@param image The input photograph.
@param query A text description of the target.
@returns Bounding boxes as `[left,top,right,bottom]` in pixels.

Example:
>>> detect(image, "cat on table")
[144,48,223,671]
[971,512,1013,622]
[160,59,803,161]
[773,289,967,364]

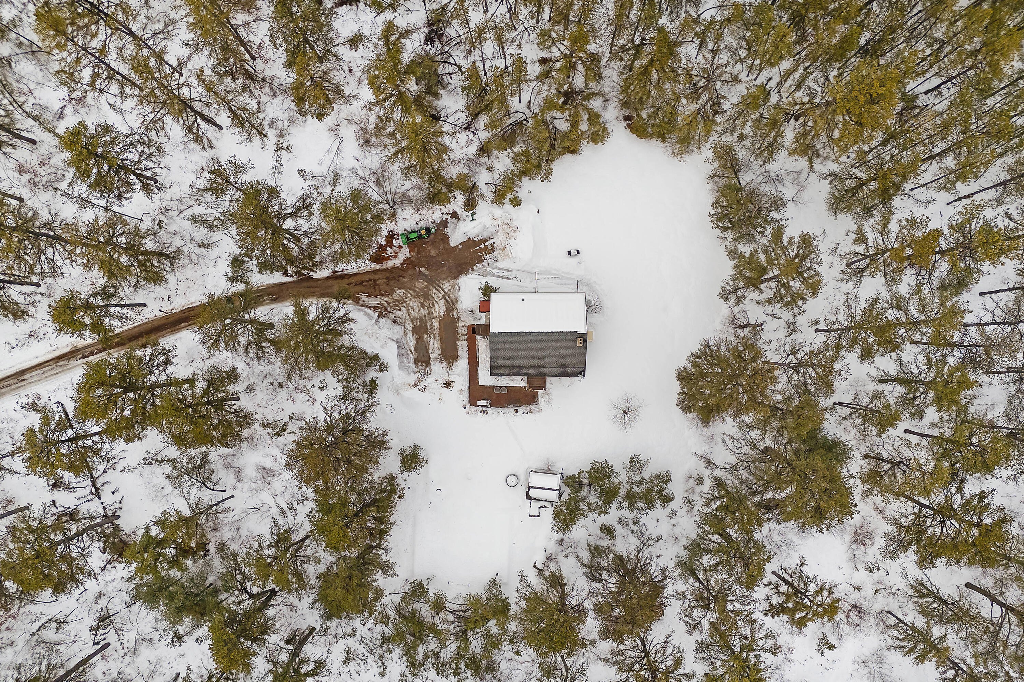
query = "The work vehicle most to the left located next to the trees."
[401,224,436,246]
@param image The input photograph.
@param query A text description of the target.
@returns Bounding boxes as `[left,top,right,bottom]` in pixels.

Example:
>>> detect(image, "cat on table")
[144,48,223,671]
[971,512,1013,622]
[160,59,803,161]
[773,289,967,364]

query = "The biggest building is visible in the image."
[489,292,589,377]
